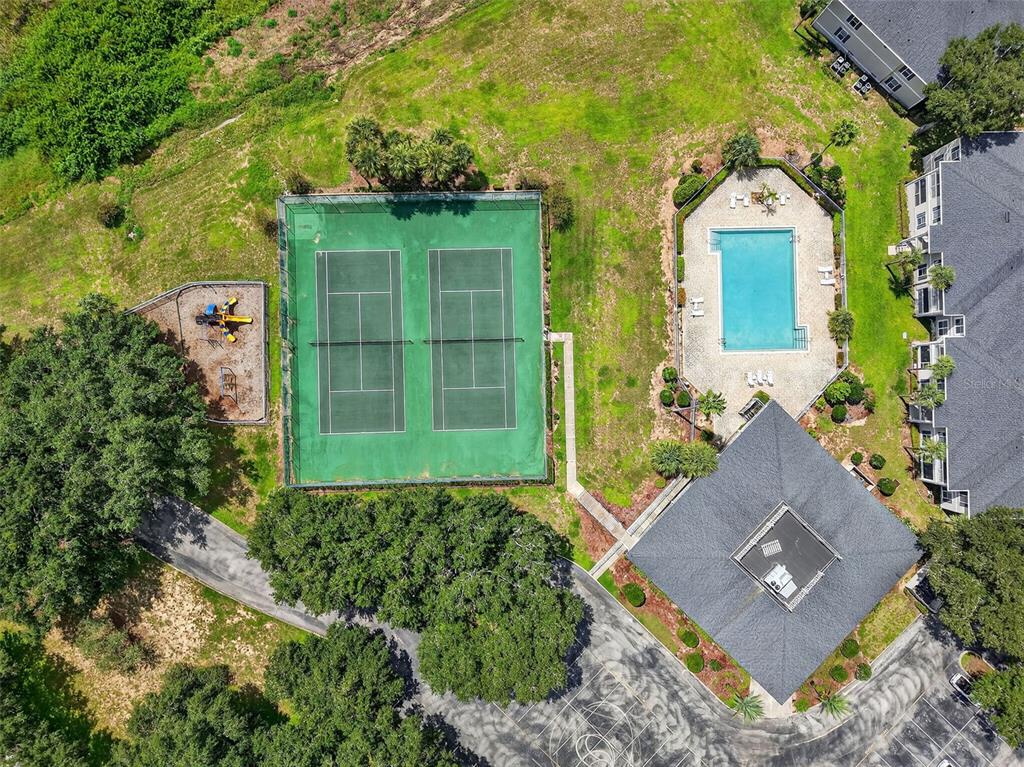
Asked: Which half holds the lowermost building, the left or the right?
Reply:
right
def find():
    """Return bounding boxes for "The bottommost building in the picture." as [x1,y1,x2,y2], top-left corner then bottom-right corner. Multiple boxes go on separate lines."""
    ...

[626,399,923,705]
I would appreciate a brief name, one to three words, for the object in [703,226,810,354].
swimming pool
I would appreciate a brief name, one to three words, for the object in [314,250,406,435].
tennis court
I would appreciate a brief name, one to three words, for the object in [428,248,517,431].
tennis court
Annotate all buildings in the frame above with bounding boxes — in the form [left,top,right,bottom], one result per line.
[811,0,1020,110]
[896,131,1024,520]
[626,399,923,705]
